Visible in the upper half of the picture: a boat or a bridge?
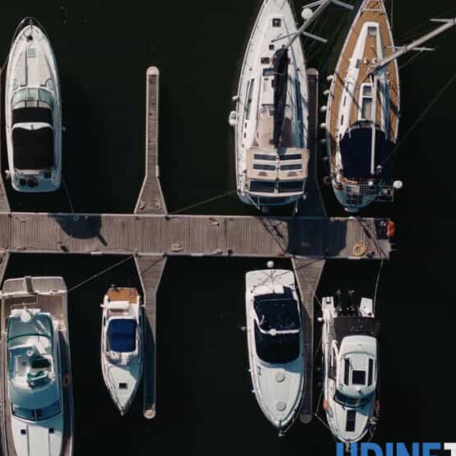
boat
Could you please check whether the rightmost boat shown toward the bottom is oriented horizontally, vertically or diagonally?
vertically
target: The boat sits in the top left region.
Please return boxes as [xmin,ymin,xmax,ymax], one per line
[5,18,62,193]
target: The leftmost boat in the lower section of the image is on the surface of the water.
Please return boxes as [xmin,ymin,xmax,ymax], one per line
[0,275,74,456]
